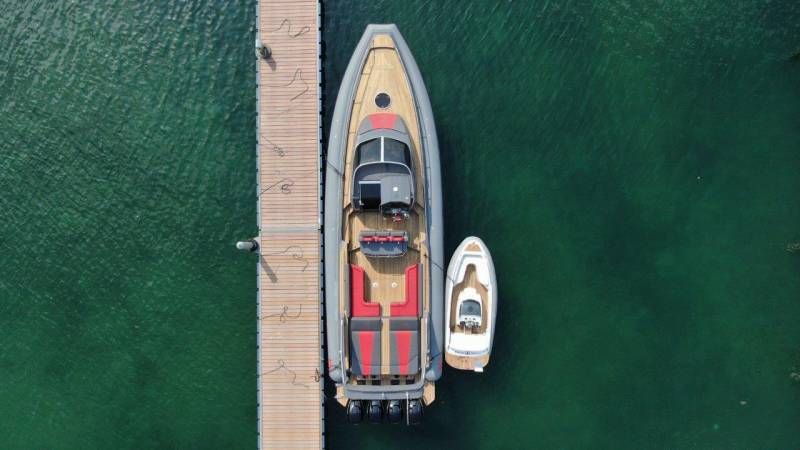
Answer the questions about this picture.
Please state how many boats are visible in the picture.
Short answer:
2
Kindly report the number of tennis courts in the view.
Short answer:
0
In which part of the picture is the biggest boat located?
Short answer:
center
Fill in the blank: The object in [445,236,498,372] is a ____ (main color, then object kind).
white boat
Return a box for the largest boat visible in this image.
[324,23,445,425]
